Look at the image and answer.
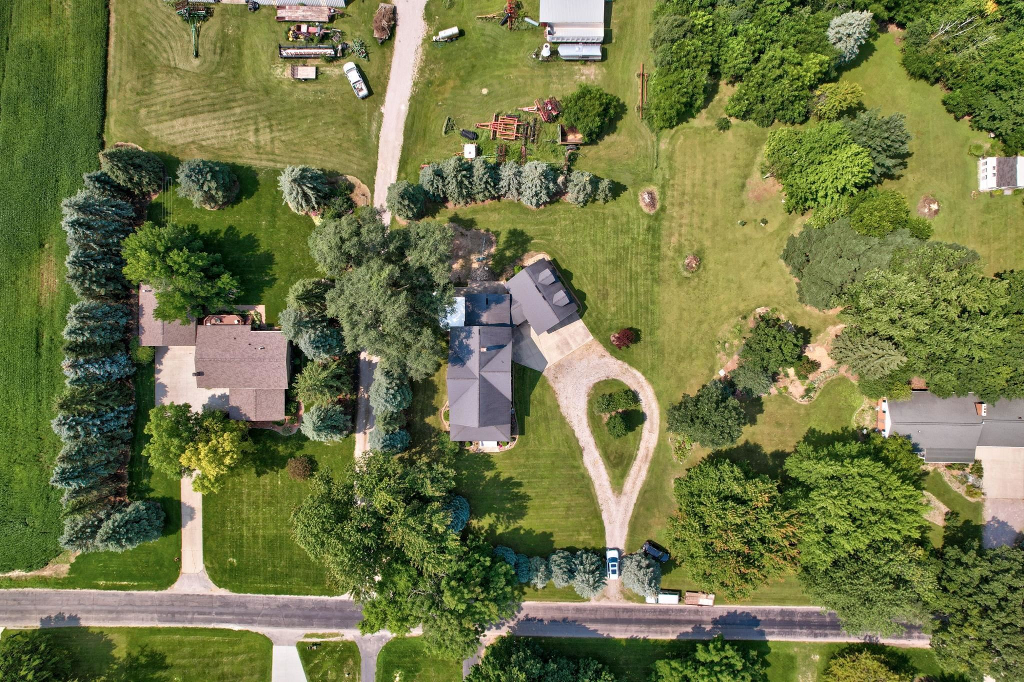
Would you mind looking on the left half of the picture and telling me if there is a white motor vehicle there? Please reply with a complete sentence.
Yes, on the left half of the picture there is a white motor vehicle.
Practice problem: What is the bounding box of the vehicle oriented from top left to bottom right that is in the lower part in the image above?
[641,539,670,565]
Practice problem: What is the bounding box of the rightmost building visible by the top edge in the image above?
[540,0,604,33]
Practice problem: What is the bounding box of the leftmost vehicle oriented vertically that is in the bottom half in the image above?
[606,546,621,580]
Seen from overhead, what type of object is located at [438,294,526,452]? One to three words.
house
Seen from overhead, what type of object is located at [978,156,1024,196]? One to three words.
shed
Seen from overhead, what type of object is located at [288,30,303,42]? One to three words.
vehicle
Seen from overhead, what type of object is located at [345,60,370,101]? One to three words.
truck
